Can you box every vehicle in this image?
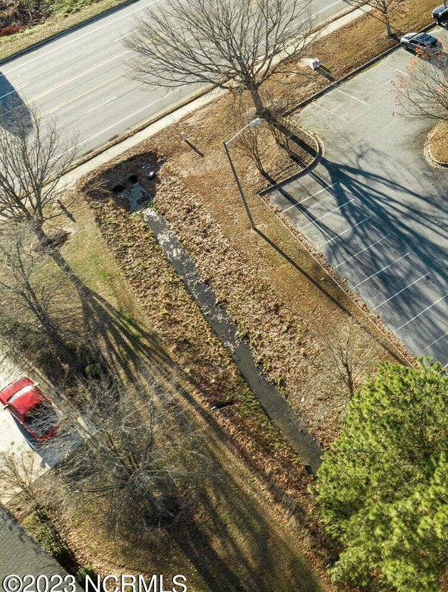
[397,30,446,56]
[0,377,71,448]
[430,4,448,24]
